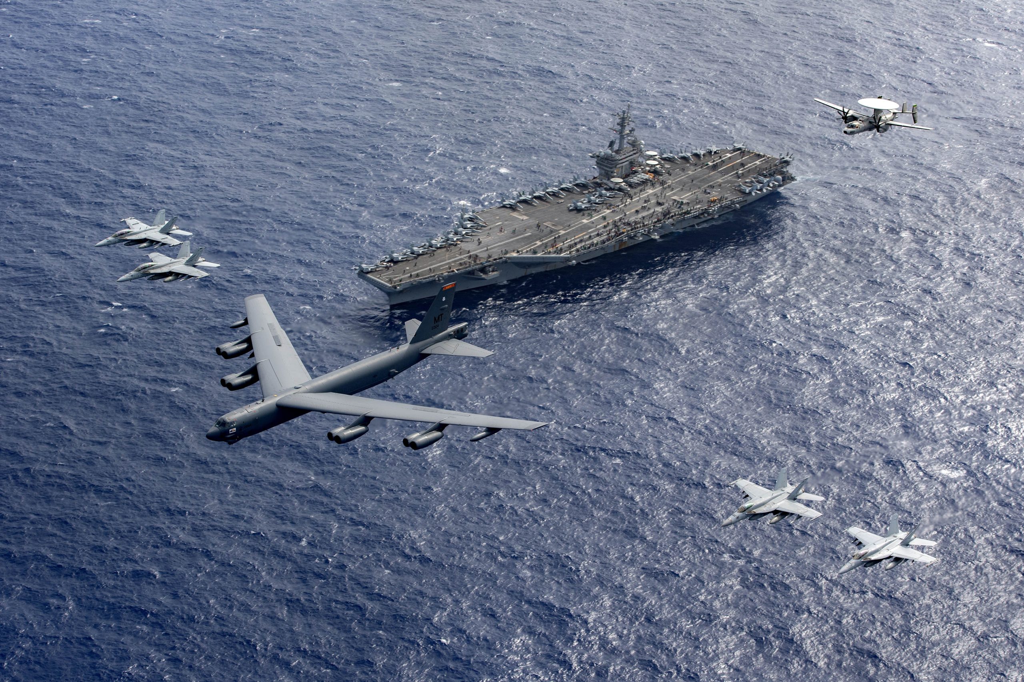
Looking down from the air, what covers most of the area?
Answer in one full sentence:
The bulk of the photo consists of water.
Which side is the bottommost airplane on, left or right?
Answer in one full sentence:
It is on the right.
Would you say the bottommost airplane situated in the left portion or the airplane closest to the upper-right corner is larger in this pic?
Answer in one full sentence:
The bottommost airplane situated in the left portion takes up more space than the airplane closest to the upper-right corner does.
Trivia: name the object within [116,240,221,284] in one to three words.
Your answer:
airplane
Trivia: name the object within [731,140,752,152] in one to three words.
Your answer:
airplane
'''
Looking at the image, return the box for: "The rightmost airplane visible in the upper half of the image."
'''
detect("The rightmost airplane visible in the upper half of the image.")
[809,93,932,137]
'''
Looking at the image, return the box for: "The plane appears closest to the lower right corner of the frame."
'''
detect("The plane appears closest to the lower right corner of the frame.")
[839,513,937,575]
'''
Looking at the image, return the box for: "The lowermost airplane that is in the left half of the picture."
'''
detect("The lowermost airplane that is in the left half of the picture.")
[205,281,548,451]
